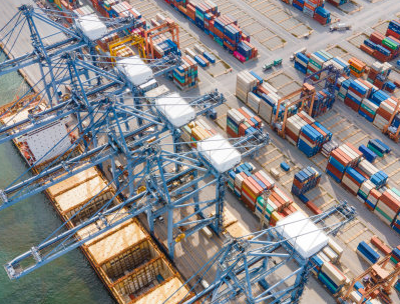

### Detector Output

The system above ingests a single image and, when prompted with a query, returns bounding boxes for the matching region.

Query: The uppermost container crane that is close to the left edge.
[0,0,141,107]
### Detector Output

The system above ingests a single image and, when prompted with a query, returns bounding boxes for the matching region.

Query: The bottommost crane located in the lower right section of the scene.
[329,253,392,304]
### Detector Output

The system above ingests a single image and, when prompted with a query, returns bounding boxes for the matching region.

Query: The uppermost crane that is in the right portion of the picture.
[291,66,334,113]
